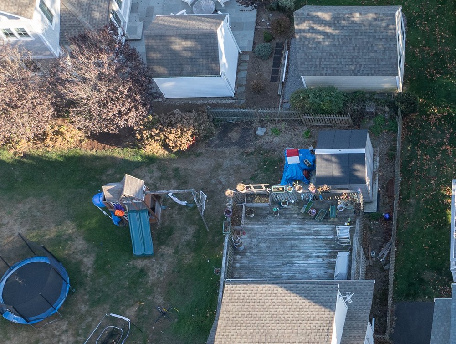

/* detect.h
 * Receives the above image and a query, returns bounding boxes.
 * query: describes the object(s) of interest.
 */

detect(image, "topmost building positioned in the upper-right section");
[295,0,404,89]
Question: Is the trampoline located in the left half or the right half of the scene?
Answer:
left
